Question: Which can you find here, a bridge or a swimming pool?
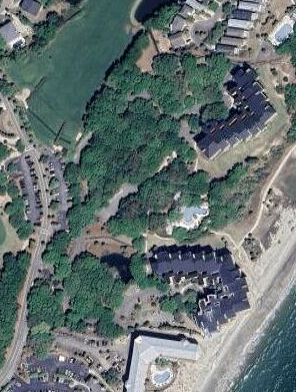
swimming pool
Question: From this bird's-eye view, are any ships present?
No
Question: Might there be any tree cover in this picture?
Yes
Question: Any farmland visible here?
No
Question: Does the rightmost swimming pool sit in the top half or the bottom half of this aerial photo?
top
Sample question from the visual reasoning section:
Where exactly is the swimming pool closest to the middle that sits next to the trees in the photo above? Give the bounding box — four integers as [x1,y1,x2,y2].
[167,203,210,235]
